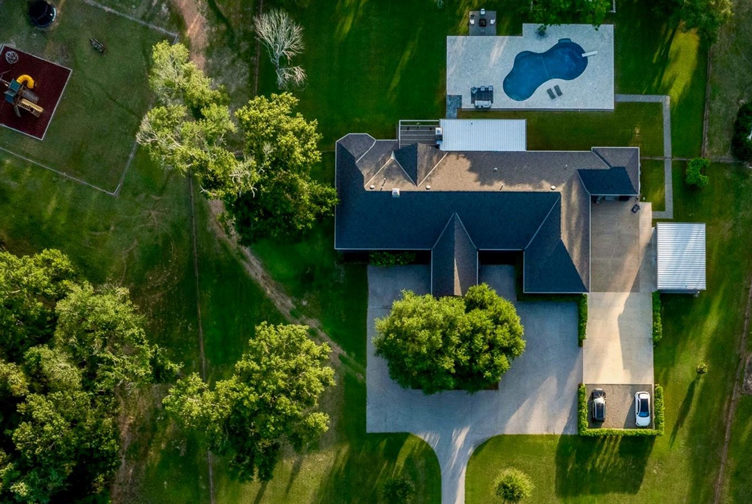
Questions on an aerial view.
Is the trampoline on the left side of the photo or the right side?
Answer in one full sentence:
You can find the trampoline on the left side of the picture.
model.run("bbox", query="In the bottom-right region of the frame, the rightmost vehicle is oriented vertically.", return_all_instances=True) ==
[636,392,651,426]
